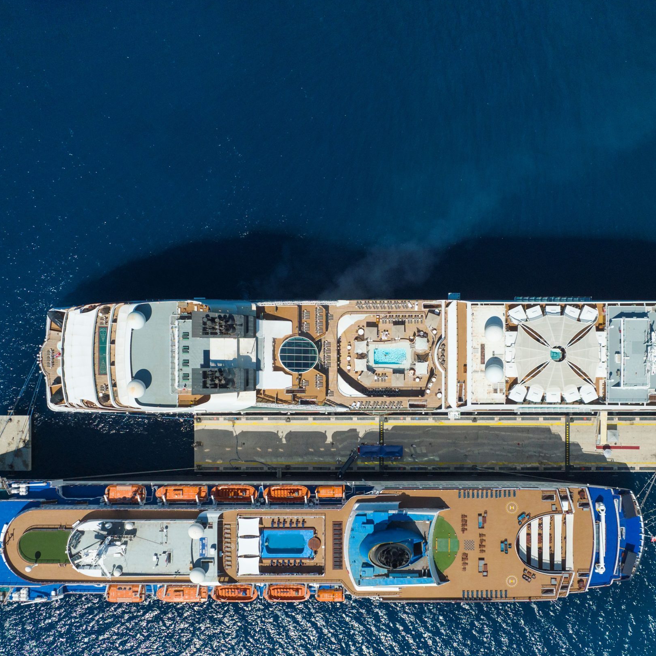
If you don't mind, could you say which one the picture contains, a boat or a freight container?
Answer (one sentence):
The image shows a boat.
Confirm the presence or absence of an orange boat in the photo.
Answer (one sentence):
Yes, looking at the shot, I can spot an orange boat.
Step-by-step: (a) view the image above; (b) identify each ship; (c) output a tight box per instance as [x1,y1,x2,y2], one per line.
[0,476,656,608]
[37,293,656,418]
